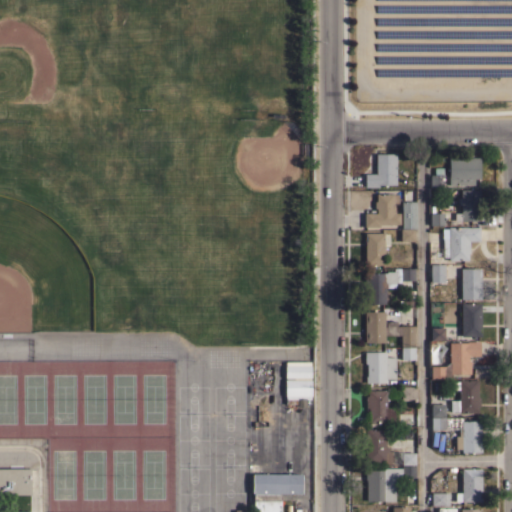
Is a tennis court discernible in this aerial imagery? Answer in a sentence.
Yes, a tennis court appears in the view.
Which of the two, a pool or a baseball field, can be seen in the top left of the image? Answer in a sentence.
The feature located in the top left of the image is a baseball field.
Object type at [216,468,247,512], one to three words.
basketball court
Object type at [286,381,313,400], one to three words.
building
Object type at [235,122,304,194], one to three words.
baseball field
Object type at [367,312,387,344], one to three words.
house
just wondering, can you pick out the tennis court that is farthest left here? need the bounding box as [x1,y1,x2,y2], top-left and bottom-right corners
[0,375,20,426]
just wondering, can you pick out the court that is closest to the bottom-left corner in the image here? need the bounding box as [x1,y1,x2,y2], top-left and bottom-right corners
[52,450,80,501]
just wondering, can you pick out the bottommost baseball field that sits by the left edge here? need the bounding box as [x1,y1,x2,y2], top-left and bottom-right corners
[0,196,94,332]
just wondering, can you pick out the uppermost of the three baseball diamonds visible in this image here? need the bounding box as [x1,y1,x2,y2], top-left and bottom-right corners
[0,18,56,105]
